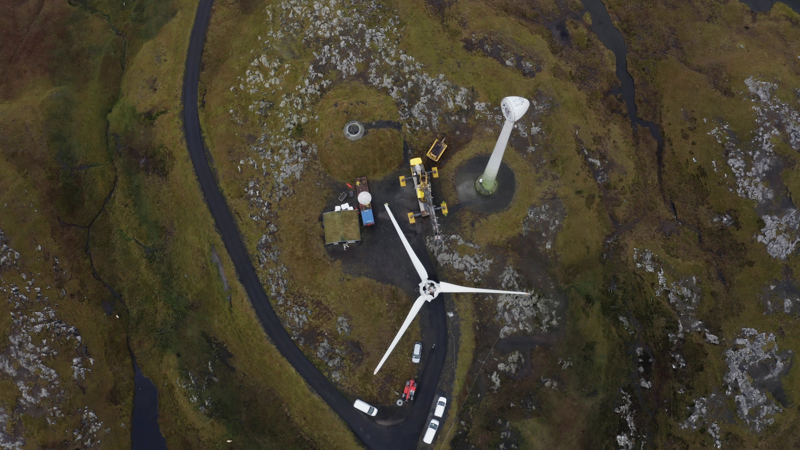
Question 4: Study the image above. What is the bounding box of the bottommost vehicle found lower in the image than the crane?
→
[422,419,441,445]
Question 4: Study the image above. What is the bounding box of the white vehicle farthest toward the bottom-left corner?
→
[352,397,379,415]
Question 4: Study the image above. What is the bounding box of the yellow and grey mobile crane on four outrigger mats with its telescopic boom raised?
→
[399,157,448,245]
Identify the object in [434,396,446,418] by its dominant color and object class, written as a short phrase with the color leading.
white vehicle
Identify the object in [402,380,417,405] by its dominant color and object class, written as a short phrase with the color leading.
red work vehicle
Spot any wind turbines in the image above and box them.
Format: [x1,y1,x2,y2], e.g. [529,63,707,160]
[476,96,532,196]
